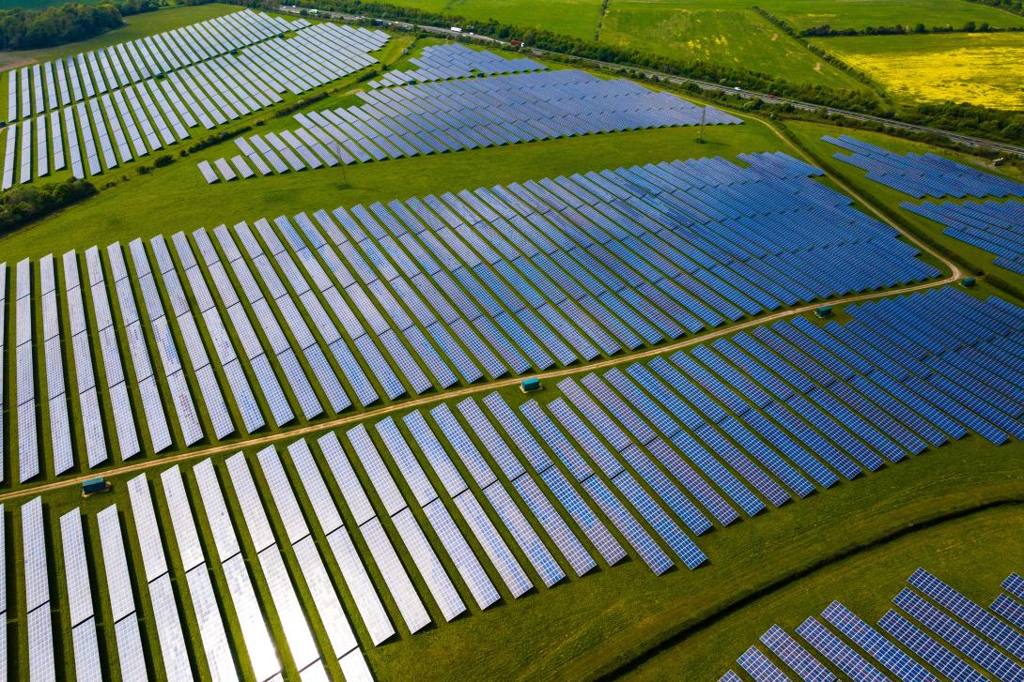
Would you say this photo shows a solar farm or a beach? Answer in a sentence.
This image shows a solar farm.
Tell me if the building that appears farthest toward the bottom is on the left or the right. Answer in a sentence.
It is on the left.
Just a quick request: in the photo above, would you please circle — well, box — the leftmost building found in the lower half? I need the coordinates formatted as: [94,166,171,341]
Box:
[76,480,108,502]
